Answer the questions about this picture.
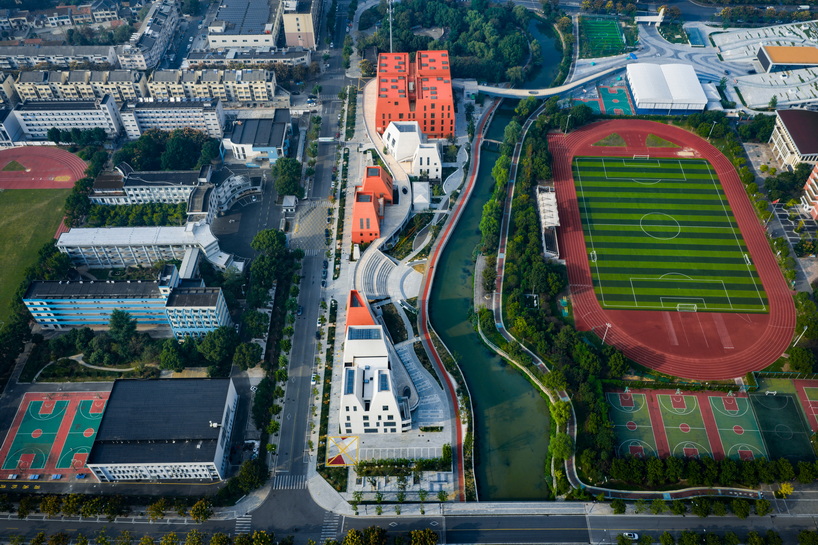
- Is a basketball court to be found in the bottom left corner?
Yes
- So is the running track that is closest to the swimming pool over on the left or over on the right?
right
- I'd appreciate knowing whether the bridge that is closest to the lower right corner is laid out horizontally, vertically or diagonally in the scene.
horizontally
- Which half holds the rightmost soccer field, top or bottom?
bottom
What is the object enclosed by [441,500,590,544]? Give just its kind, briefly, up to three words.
bridge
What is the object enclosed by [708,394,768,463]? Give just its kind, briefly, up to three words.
basketball court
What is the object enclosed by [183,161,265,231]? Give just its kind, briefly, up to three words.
building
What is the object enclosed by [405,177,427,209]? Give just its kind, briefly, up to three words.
building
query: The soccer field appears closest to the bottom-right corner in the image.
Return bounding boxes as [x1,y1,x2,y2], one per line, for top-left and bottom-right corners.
[749,392,816,464]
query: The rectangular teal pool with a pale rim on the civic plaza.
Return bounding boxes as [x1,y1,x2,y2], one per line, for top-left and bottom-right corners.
[685,26,706,46]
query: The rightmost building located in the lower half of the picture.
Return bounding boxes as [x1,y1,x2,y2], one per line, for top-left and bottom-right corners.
[339,291,415,433]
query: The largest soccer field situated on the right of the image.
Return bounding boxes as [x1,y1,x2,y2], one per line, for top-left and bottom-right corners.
[573,156,768,312]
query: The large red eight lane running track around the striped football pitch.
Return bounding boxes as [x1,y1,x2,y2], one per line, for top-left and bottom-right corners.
[548,117,795,380]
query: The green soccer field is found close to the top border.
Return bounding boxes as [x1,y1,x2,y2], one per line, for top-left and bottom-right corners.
[582,16,631,54]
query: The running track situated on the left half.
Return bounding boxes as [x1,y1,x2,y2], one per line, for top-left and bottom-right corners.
[0,148,89,376]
